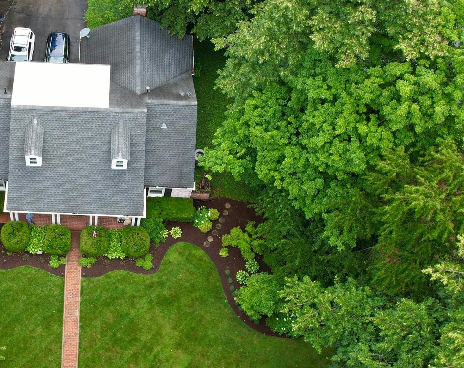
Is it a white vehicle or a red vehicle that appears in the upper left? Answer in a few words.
white vehicle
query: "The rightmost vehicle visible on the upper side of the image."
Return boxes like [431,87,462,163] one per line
[45,32,70,60]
